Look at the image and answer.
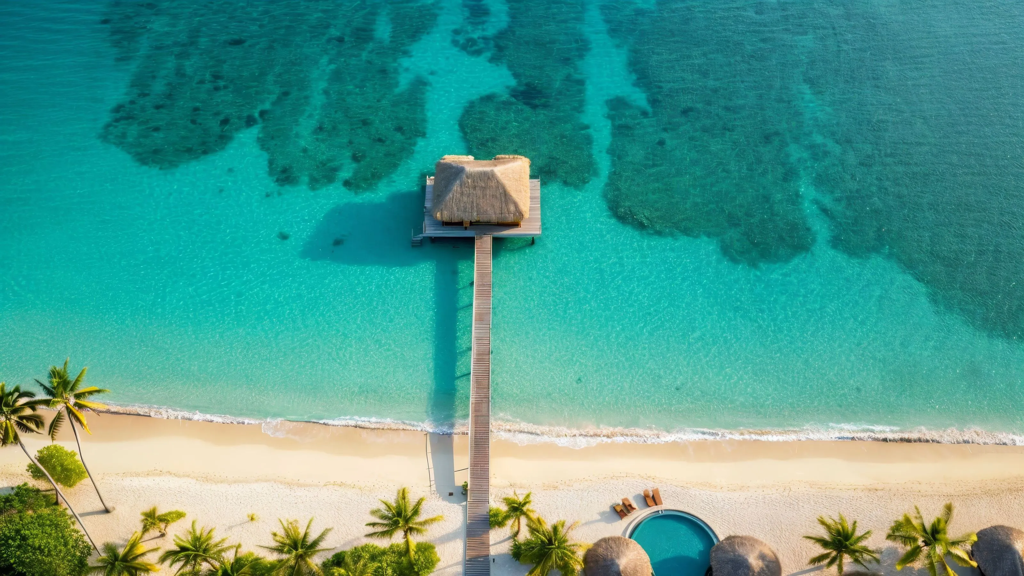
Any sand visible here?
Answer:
Yes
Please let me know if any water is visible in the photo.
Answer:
Yes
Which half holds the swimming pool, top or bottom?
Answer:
bottom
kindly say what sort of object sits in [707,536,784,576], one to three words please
umbrella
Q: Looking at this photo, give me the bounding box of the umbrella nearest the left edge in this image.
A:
[581,538,654,576]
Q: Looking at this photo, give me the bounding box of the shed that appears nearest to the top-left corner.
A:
[423,153,542,250]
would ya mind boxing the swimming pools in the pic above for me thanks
[626,508,717,576]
